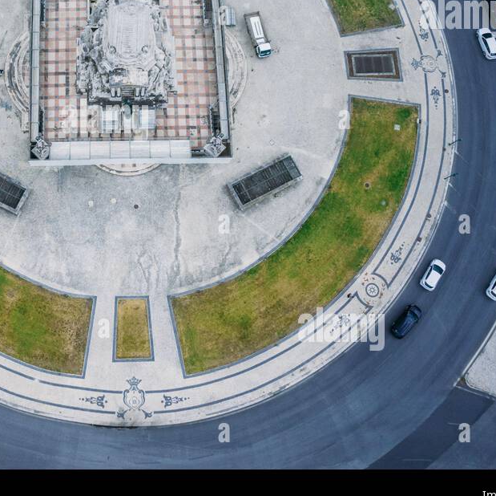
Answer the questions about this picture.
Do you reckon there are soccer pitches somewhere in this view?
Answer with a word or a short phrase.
No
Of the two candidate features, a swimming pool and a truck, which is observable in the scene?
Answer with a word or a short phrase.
truck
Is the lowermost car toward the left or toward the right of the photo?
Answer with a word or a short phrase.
right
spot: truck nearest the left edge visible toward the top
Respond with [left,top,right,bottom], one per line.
[244,12,276,58]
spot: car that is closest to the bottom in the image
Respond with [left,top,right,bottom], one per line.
[389,304,421,341]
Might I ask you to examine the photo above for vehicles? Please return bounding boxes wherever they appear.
[389,304,421,341]
[244,12,276,58]
[485,275,496,301]
[419,258,446,293]
[474,30,496,61]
